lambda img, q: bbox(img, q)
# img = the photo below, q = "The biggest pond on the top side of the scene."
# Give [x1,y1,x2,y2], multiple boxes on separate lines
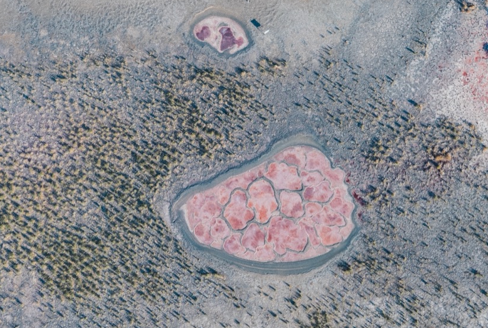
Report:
[189,11,253,55]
